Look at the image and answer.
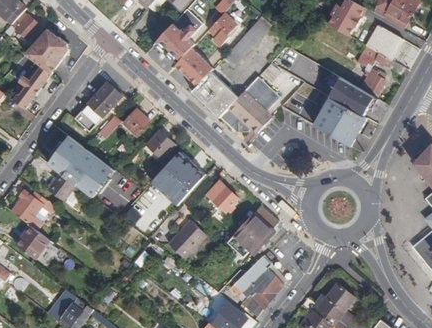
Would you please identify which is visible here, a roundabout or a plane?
roundabout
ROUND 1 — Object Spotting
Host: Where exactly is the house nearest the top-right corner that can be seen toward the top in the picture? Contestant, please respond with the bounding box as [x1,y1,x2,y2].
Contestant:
[376,0,422,30]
